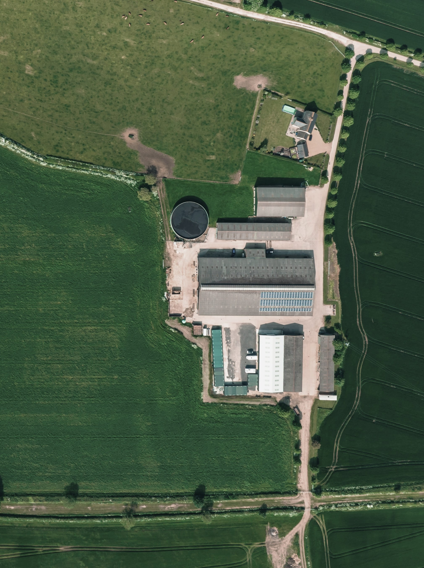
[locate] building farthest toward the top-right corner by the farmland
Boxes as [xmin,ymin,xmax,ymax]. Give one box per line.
[292,111,317,140]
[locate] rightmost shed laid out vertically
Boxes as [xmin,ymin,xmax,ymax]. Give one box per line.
[317,335,335,392]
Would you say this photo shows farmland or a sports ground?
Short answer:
farmland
